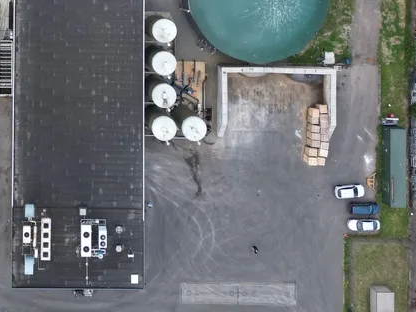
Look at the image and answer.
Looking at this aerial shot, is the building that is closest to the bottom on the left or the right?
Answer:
right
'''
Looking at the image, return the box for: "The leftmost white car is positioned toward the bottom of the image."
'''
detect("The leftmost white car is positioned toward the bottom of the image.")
[332,183,362,198]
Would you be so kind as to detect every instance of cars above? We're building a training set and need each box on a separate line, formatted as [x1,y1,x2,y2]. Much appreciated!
[348,201,379,217]
[332,183,362,198]
[347,218,381,232]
